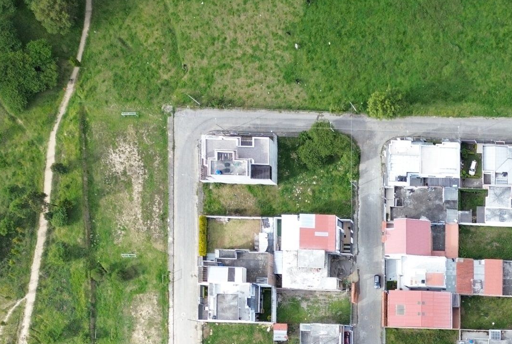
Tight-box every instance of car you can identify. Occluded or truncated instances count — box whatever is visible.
[468,159,478,176]
[373,275,381,289]
[345,332,352,344]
